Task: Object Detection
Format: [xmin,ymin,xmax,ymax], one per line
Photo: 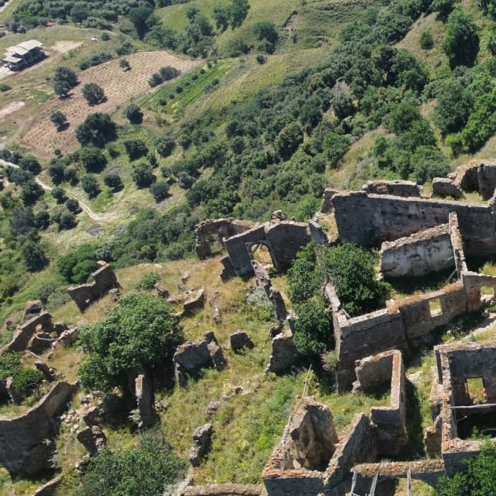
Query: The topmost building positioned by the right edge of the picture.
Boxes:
[316,191,496,381]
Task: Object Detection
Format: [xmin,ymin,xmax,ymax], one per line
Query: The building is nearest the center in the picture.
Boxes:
[220,211,309,287]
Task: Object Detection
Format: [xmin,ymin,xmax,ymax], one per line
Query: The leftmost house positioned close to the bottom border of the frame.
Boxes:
[260,396,372,496]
